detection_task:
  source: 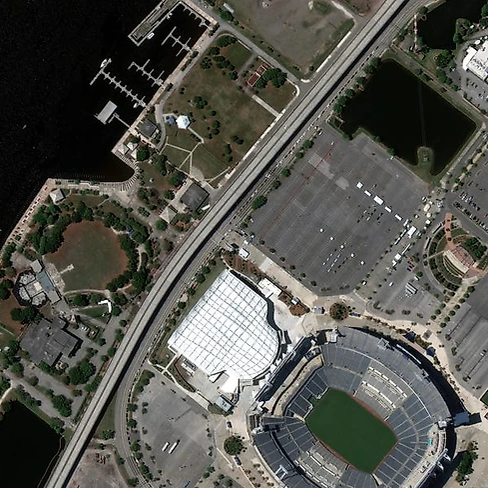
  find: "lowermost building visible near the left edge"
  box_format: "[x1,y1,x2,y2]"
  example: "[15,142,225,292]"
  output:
[20,317,82,367]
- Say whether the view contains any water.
Yes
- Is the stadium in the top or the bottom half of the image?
bottom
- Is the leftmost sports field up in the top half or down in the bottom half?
bottom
